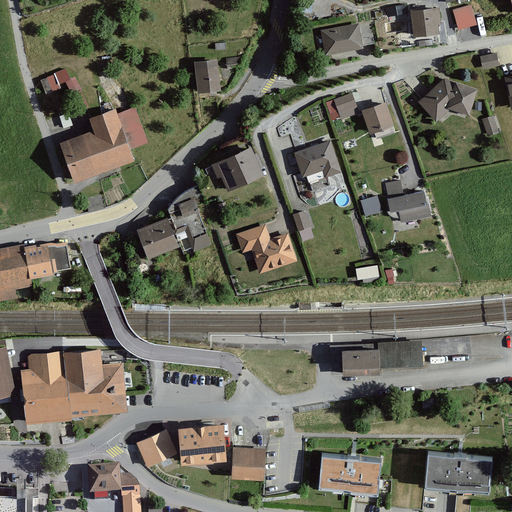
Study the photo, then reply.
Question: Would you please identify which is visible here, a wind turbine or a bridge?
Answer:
bridge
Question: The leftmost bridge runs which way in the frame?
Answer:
diagonally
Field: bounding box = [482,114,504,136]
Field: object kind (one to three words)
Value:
shed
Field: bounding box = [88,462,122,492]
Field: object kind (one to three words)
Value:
house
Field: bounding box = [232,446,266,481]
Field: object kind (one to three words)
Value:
barn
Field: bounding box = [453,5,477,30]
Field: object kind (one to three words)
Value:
building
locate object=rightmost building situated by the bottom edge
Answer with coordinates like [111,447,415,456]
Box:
[424,449,494,496]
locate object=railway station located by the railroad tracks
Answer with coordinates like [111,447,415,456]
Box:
[160,293,512,344]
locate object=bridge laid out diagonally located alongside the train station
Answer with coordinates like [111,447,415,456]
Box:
[80,243,244,378]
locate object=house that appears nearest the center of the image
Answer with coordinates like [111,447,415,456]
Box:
[236,224,298,273]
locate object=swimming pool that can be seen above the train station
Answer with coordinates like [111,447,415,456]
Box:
[334,192,350,207]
